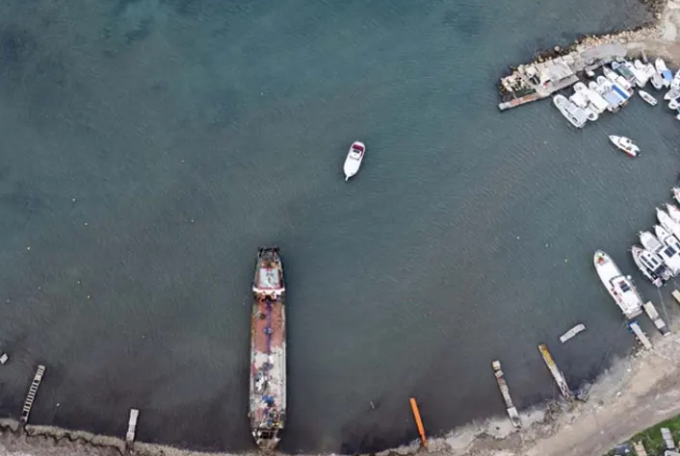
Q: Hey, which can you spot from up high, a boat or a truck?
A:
boat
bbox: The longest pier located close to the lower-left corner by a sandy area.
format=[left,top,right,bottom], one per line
[20,366,47,422]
